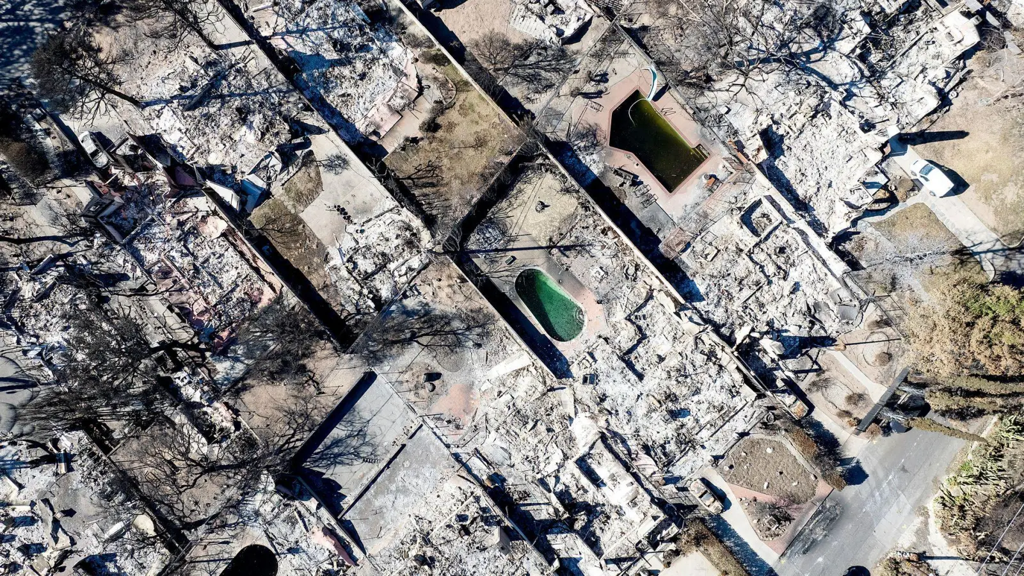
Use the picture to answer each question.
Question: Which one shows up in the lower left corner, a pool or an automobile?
pool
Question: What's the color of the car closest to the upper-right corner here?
white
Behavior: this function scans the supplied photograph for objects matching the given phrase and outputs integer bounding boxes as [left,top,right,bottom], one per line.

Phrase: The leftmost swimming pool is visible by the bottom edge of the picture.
[217,543,281,576]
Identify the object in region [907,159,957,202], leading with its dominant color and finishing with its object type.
white car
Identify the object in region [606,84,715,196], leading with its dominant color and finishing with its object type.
black swimming pool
